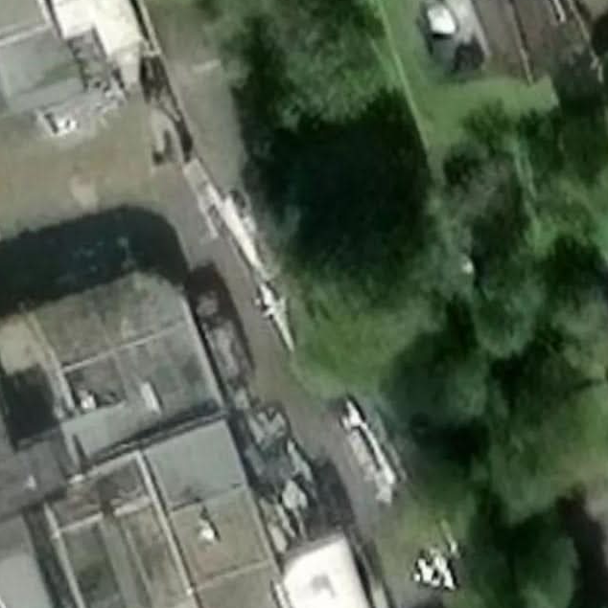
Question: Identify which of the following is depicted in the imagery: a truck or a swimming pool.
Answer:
truck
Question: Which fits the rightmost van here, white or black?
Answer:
white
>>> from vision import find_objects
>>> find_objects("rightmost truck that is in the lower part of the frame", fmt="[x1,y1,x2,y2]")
[338,403,399,503]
